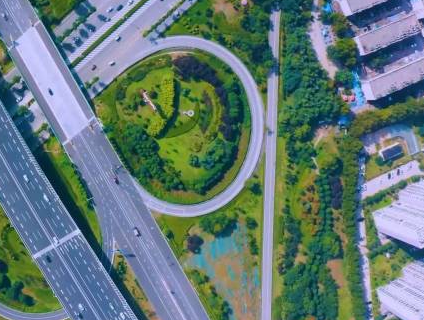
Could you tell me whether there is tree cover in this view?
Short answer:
Yes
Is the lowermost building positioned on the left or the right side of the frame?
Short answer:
right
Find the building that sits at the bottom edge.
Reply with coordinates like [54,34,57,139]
[377,261,424,320]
